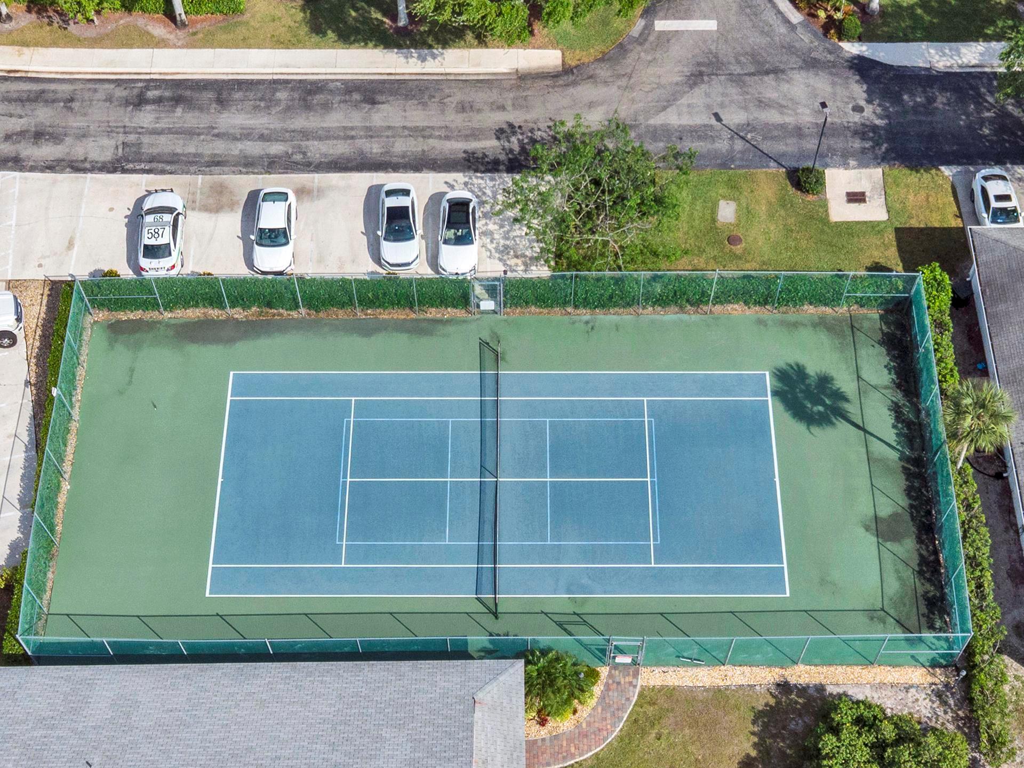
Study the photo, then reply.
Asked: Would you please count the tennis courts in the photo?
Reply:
1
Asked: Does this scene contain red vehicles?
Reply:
No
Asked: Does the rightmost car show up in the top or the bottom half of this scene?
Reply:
top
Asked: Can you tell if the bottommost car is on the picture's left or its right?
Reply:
left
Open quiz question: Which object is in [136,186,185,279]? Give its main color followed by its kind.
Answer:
white car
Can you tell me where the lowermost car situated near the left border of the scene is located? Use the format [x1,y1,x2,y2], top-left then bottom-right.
[0,298,27,348]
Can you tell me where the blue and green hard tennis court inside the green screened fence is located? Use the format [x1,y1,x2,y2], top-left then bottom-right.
[46,314,951,667]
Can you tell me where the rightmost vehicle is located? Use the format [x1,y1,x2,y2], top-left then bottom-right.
[975,169,1024,226]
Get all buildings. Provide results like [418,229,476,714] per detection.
[0,657,524,768]
[962,226,1024,571]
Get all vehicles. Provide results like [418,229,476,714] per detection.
[0,298,27,348]
[375,181,423,272]
[136,186,185,279]
[435,189,482,278]
[249,187,299,275]
[975,169,1024,226]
